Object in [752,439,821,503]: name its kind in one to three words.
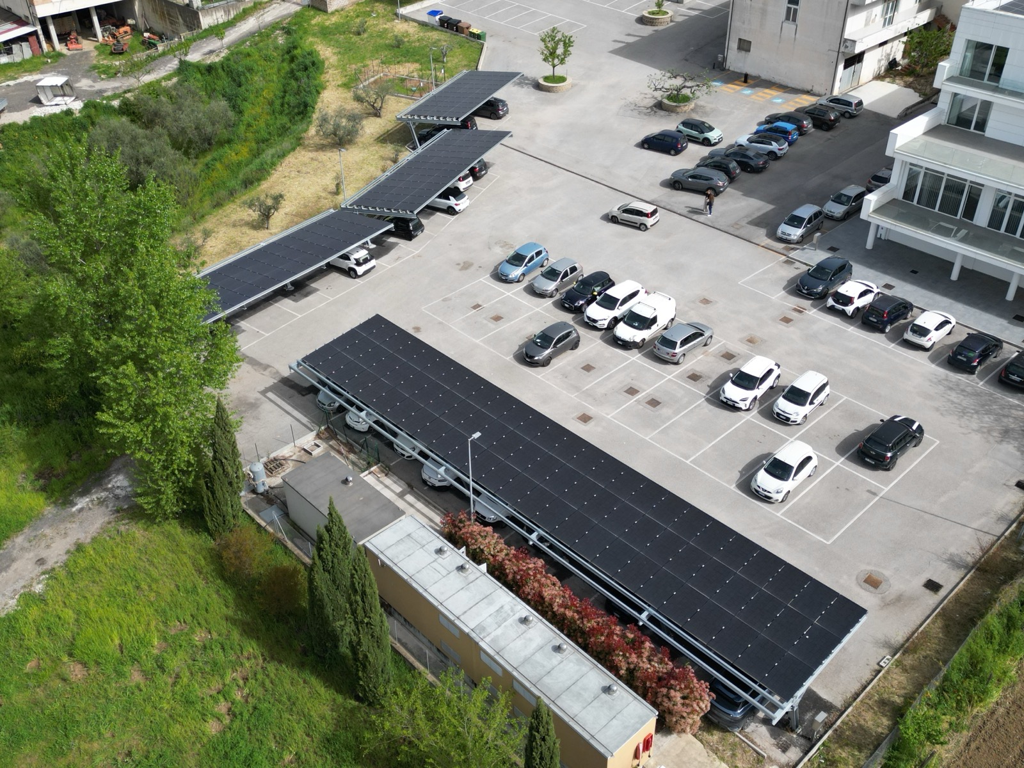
car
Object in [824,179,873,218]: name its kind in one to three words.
car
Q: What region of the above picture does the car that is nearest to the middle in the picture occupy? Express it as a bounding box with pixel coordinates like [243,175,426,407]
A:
[520,318,582,367]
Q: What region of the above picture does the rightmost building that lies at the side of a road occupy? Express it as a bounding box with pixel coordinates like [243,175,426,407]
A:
[863,0,1024,300]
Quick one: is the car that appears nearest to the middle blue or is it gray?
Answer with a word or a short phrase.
gray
